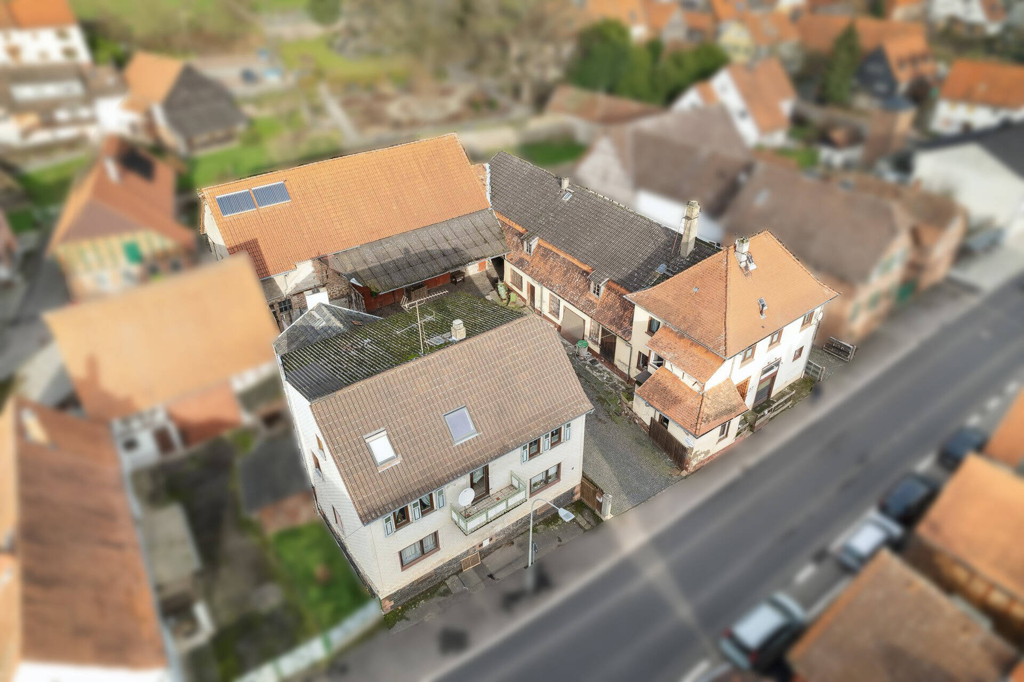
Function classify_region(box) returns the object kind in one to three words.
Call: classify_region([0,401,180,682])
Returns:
house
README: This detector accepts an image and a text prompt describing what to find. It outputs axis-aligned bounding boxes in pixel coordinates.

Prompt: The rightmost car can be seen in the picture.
[941,426,996,469]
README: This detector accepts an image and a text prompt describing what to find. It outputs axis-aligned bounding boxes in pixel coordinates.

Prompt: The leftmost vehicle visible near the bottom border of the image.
[728,593,810,672]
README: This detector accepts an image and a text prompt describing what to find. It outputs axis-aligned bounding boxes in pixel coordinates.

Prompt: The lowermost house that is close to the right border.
[789,538,1024,682]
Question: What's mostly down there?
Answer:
buildings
